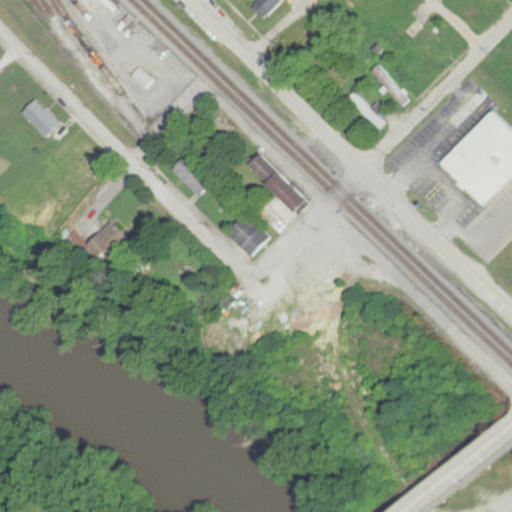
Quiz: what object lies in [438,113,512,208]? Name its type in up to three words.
building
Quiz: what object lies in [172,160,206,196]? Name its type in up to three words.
house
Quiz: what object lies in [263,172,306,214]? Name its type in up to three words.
building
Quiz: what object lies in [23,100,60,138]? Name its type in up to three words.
house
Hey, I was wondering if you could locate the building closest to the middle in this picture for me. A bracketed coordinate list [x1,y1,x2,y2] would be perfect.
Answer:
[228,222,270,258]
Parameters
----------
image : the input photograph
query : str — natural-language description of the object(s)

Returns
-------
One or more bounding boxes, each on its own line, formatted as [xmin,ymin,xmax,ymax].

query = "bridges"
[380,406,512,512]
